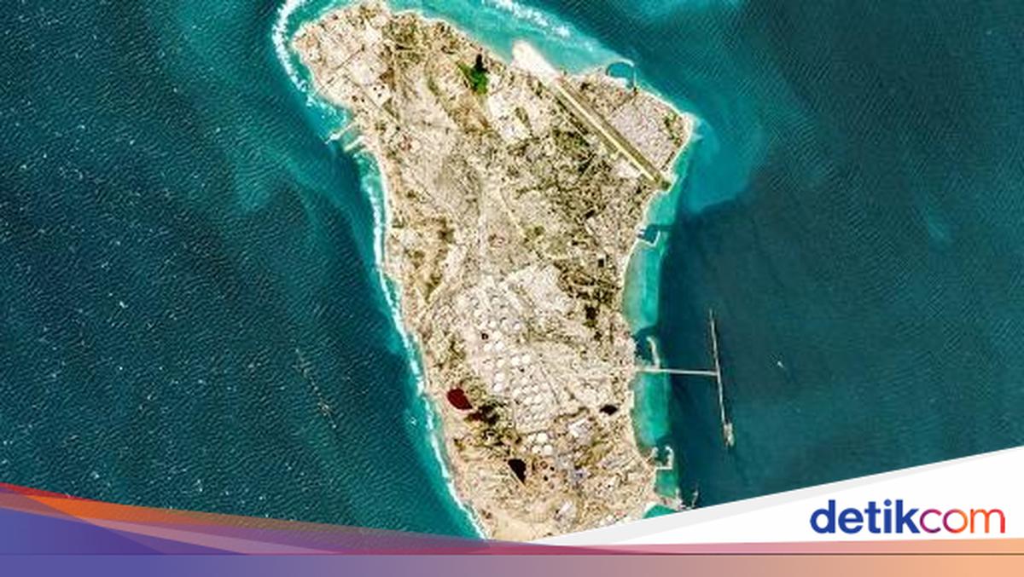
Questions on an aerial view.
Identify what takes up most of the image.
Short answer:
water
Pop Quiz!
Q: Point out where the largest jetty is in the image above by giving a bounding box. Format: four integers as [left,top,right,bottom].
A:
[635,309,727,440]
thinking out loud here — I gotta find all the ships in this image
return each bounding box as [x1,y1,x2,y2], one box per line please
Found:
[728,423,735,446]
[725,425,731,446]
